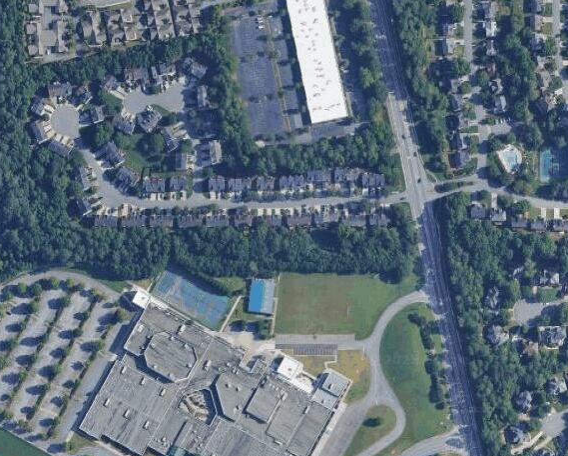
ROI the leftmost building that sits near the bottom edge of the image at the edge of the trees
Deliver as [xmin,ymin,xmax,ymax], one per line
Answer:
[80,291,351,456]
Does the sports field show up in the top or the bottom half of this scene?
bottom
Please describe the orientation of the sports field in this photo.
from left to right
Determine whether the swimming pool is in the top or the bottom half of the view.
top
